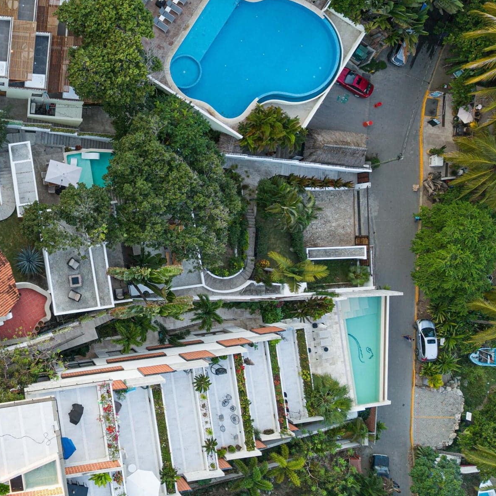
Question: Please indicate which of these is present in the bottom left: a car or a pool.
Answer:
pool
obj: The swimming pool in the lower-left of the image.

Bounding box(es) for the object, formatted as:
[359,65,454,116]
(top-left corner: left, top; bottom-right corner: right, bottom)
[22,458,61,491]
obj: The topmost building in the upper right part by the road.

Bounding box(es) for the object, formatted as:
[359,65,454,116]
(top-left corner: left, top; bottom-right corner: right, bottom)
[346,43,375,69]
